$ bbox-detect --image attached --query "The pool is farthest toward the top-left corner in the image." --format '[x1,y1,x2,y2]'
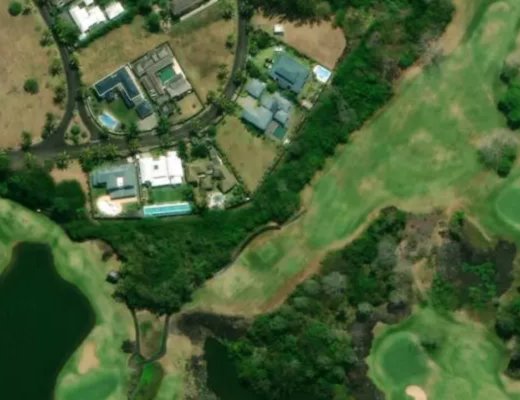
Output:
[100,111,119,129]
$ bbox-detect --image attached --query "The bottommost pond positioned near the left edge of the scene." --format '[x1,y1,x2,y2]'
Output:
[0,245,93,400]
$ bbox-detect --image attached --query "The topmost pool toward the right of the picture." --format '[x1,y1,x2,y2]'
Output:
[313,65,331,82]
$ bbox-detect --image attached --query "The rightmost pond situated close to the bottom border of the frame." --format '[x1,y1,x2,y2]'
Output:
[206,339,257,400]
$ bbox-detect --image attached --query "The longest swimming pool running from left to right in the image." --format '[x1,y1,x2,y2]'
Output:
[143,202,190,216]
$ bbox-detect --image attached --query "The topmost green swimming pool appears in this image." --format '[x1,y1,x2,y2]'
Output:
[156,64,176,83]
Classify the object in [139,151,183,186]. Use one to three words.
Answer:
house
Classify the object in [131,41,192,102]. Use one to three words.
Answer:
house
